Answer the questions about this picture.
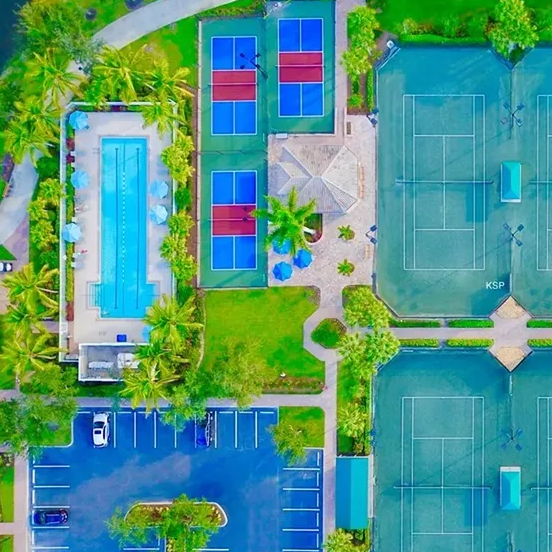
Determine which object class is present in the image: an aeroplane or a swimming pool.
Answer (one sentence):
Visible in the photo is a swimming pool.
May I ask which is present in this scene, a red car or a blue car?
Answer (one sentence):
I can see a blue car in this picture.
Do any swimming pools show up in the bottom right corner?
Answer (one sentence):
No, there's no swimming pool to be seen in the bottom right corner.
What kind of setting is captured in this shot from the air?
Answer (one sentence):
This image shows a sports ground.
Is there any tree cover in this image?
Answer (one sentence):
Yes, tree cover shows up in the scene.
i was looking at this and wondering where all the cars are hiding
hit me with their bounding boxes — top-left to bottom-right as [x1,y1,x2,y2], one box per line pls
[195,411,214,448]
[33,510,70,528]
[92,411,111,448]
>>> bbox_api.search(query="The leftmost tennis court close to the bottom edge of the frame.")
[374,351,510,552]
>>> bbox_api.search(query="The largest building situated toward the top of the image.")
[268,145,360,214]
